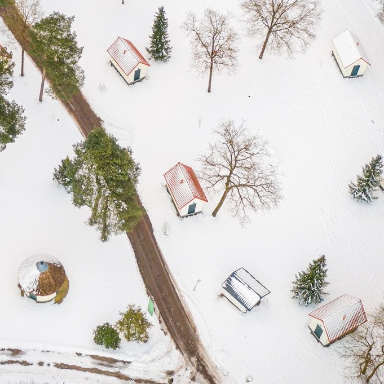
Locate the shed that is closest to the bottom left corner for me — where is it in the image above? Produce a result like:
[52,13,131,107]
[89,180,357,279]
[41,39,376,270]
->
[17,253,71,305]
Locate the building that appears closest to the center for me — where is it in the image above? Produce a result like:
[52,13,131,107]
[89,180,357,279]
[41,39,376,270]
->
[163,162,208,216]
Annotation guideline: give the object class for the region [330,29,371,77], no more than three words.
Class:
building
